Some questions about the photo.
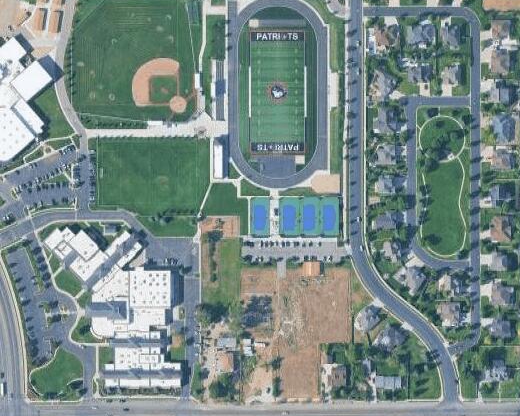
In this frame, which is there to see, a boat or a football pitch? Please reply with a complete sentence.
I can see a football pitch in this picture.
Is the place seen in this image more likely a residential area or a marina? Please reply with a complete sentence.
This image shows a residential area.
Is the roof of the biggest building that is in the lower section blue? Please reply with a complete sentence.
No, the roof of the biggest building that is in the lower section is actually white.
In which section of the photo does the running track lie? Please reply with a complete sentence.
You can find the running track in the top area of the picture.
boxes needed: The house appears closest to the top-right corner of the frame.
[491,20,511,44]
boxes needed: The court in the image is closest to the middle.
[250,197,270,236]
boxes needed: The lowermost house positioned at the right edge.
[486,362,508,383]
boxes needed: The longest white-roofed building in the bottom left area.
[44,228,181,388]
